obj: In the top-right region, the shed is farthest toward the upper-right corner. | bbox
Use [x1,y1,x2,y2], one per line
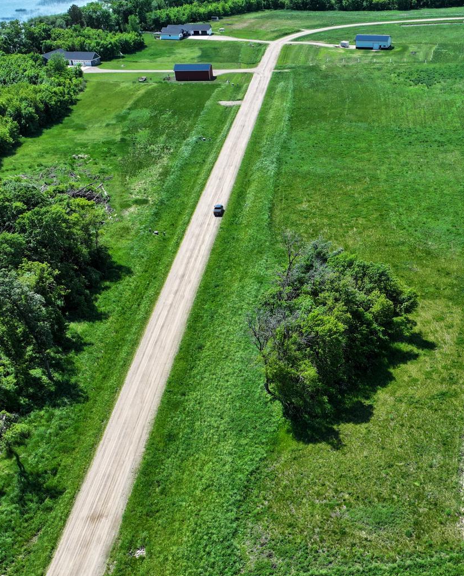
[355,32,390,50]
